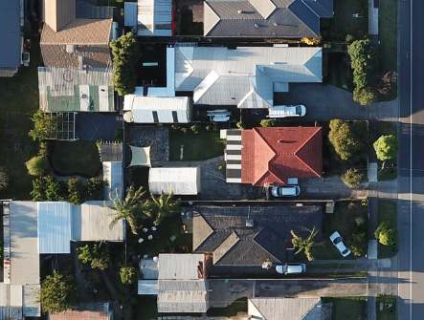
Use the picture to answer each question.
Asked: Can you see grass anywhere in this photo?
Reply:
Yes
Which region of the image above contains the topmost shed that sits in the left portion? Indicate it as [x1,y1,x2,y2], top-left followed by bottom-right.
[125,0,176,36]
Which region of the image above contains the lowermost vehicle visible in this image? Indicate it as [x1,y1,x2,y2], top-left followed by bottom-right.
[275,261,306,276]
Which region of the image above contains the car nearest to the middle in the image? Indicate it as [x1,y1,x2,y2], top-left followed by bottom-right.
[203,108,234,123]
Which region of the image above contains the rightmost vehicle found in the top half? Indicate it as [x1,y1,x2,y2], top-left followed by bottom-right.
[266,104,306,119]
